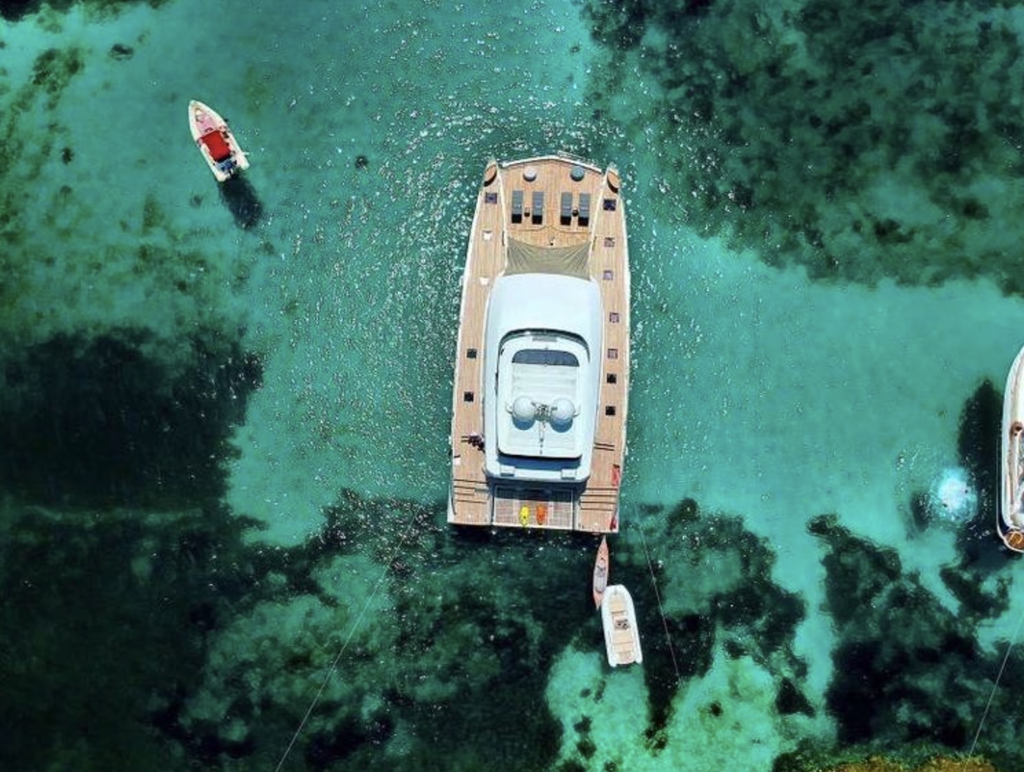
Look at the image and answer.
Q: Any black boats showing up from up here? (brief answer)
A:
No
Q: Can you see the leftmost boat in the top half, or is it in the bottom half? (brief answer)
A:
top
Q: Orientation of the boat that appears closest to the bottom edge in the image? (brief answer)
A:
up and down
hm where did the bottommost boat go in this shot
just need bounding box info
[604,587,643,671]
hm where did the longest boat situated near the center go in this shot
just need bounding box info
[448,150,630,529]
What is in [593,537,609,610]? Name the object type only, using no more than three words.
boat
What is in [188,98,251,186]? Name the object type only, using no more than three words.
boat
